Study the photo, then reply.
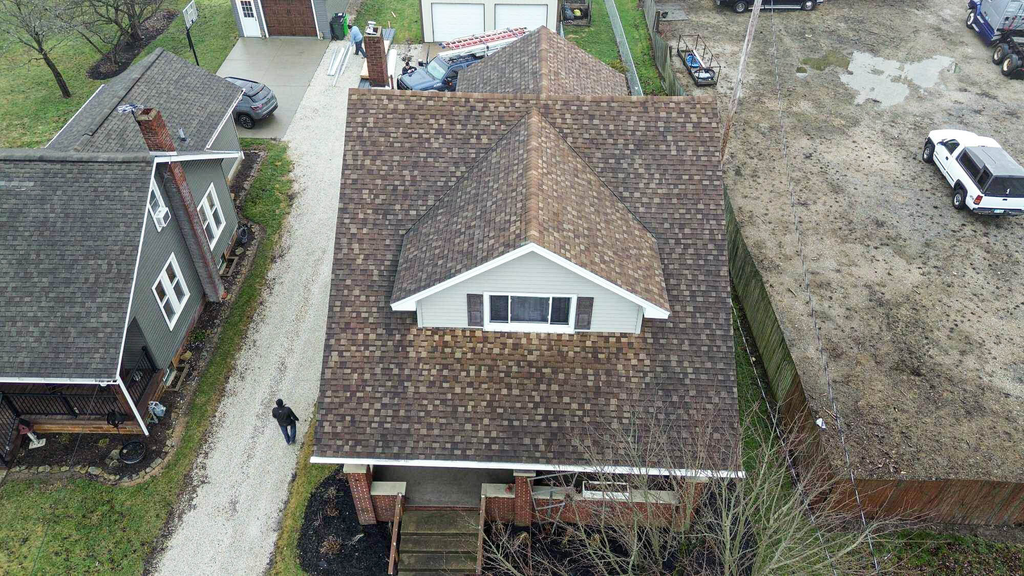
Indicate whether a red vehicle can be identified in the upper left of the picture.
No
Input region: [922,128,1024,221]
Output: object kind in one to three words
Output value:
truck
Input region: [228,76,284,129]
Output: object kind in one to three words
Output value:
car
